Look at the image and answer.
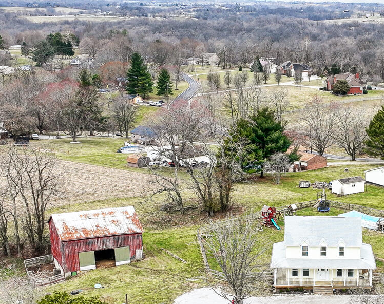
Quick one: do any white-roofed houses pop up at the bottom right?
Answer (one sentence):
Yes, a white-roofed house can be seen at the bottom right.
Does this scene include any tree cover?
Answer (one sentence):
Yes, there's tree cover in this view.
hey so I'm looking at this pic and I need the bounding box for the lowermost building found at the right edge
[271,216,376,295]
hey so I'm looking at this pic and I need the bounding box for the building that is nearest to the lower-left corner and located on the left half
[44,205,147,277]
